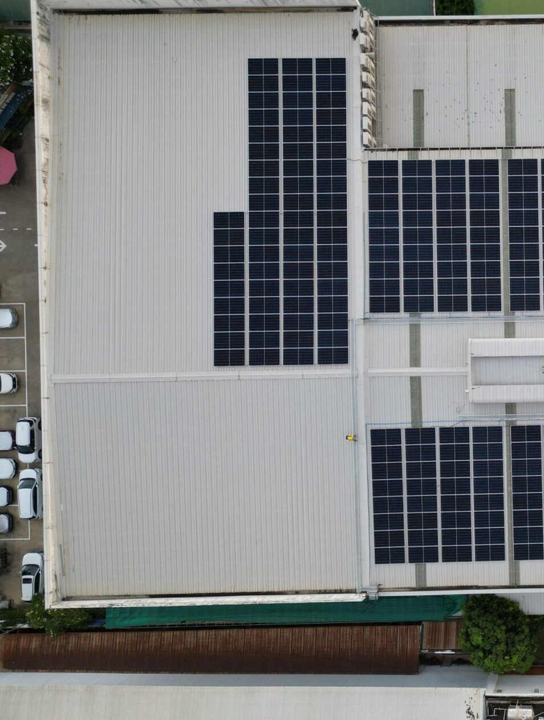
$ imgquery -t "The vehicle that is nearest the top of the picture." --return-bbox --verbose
[0,308,21,330]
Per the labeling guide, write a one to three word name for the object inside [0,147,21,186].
umbrella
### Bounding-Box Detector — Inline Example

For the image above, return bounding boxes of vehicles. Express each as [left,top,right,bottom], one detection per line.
[14,413,42,461]
[16,464,43,518]
[0,370,22,396]
[0,511,15,534]
[0,458,19,479]
[0,485,14,507]
[17,550,46,604]
[0,308,21,330]
[0,429,17,452]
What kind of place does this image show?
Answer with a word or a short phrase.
industrial area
